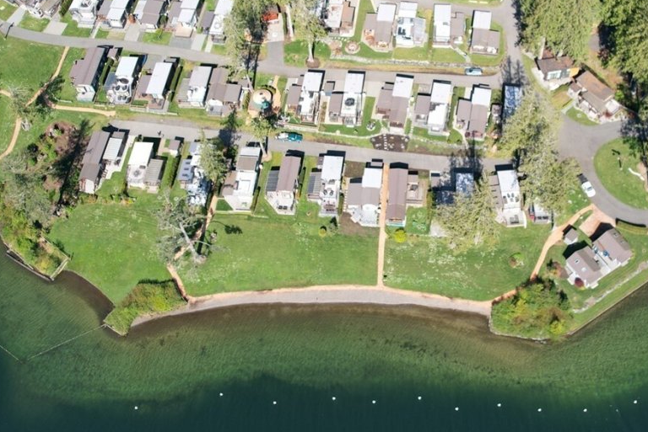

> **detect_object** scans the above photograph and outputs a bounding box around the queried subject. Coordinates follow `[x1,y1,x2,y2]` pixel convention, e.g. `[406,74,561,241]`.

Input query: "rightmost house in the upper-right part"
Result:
[566,70,623,121]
